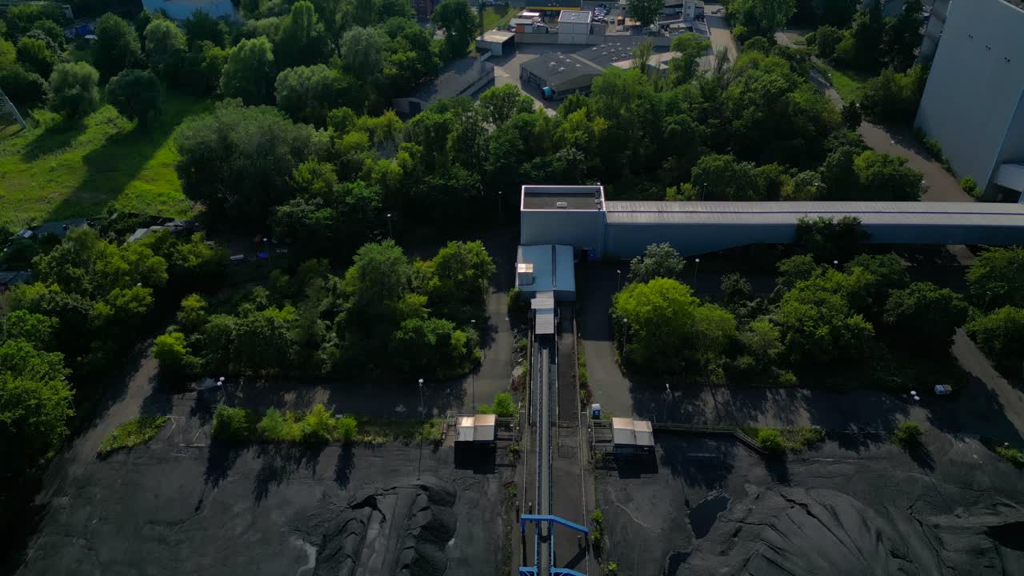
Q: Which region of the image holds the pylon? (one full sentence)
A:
The pylon is in the top left part of the image.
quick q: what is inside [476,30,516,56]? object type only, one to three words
shed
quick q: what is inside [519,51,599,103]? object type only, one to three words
building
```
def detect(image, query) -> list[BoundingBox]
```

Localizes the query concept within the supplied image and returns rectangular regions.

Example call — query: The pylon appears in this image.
[0,88,26,138]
